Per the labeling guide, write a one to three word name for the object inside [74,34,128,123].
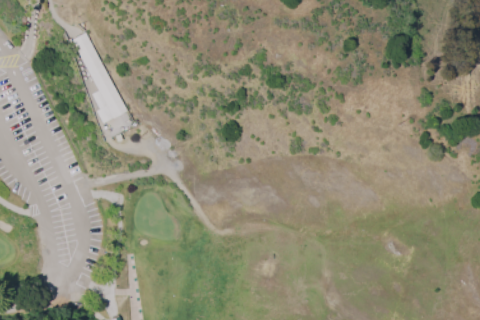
shed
